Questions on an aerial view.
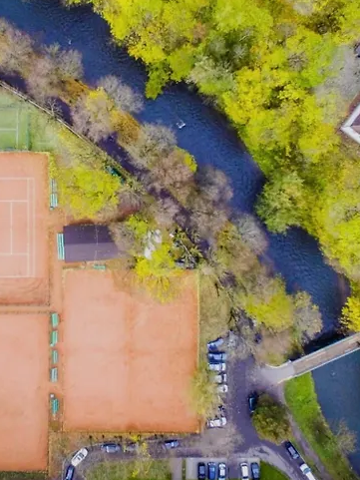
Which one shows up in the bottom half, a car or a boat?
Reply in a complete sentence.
Looking in the bottom half, you will find a car.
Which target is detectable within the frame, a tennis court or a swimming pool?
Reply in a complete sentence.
Of the two, only a tennis court appears.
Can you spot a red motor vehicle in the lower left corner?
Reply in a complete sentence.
No, there's no red motor vehicle to be seen in the lower left corner.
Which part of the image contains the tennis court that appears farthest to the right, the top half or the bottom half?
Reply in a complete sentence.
Seen from above, the tennis court that appears farthest to the right lies in the bottom half of the view.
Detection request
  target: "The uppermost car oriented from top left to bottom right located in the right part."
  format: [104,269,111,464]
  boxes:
[286,442,302,462]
